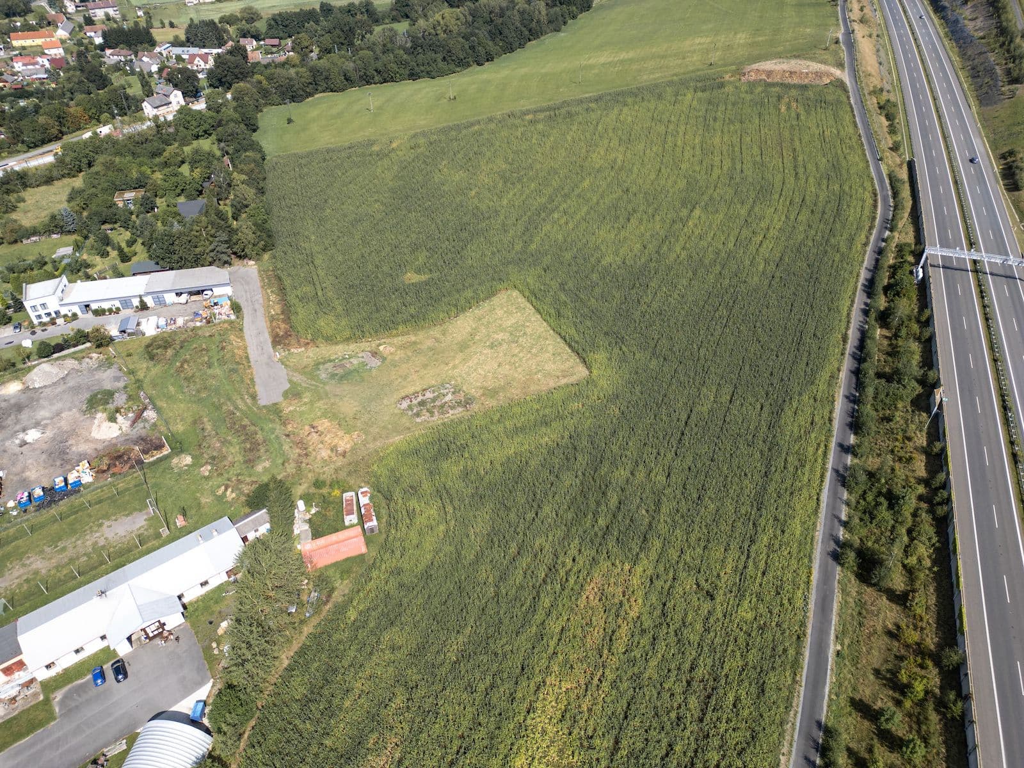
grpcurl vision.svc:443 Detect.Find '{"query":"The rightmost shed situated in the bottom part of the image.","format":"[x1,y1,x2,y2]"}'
[301,526,368,572]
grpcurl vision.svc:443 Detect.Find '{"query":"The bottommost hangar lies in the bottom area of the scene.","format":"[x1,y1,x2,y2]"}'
[112,713,207,768]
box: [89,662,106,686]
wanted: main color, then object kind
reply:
blue car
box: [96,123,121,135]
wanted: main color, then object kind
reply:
white vehicle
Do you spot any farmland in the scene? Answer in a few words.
Yes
